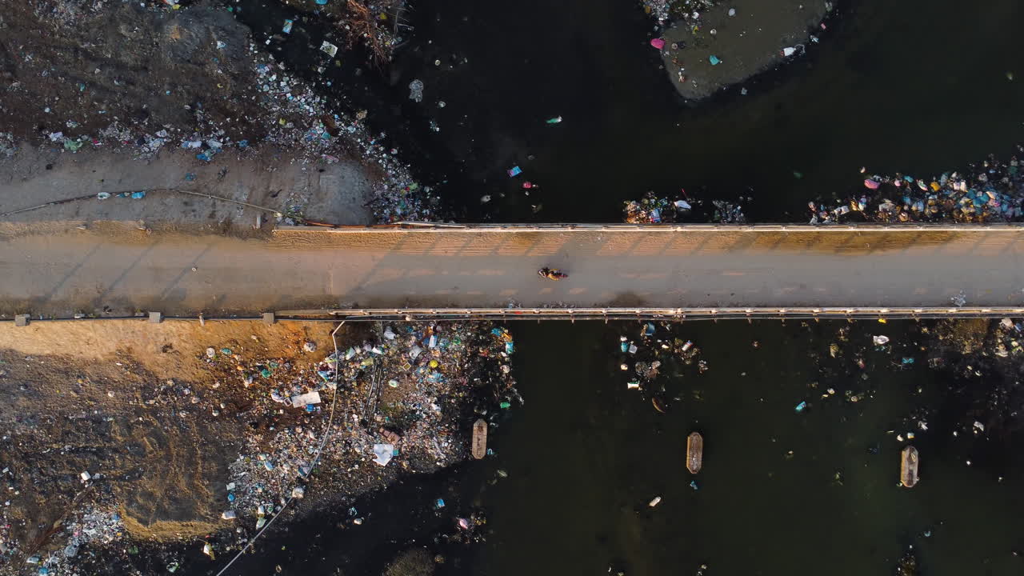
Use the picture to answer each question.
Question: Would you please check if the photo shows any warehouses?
No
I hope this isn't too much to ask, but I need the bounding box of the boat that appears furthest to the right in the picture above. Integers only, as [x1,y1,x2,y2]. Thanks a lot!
[899,445,917,487]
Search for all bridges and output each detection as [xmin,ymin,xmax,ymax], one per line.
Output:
[325,225,1024,324]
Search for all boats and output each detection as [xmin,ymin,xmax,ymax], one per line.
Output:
[472,419,487,459]
[899,445,917,487]
[686,432,701,474]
